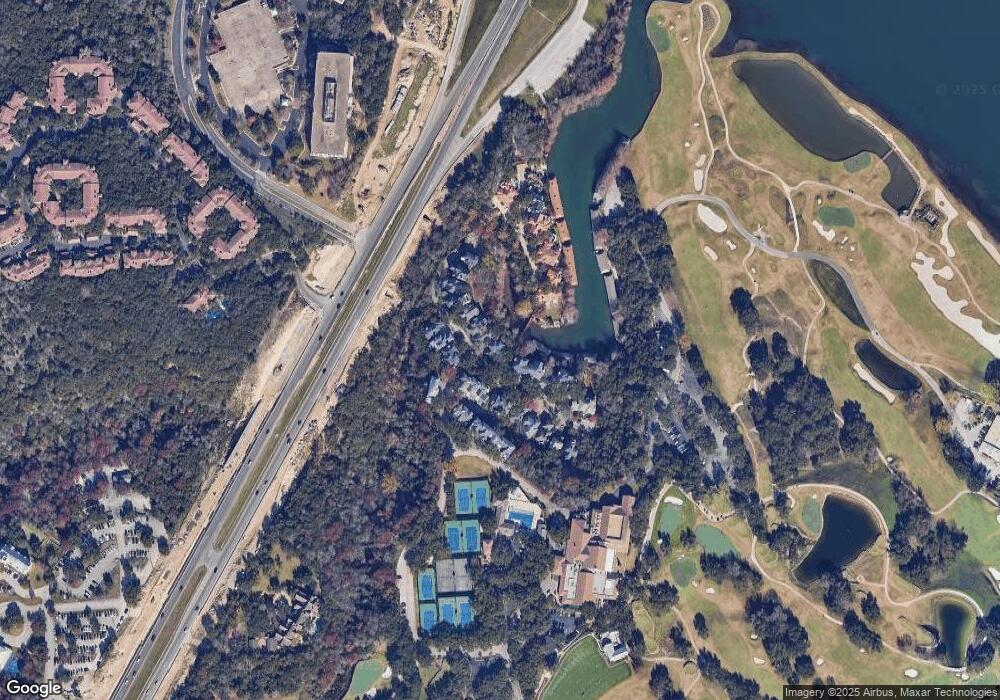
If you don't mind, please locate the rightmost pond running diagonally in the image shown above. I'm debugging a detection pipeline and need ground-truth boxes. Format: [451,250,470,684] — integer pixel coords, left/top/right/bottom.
[854,339,922,391]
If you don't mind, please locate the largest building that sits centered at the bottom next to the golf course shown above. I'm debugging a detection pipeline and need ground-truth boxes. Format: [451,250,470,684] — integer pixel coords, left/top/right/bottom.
[552,497,635,604]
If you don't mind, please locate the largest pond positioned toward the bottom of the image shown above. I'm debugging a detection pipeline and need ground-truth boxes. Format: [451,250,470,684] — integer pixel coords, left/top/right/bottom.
[794,492,882,582]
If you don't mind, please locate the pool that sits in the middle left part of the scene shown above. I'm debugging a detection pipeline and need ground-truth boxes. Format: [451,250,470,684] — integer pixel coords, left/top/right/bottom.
[204,301,228,321]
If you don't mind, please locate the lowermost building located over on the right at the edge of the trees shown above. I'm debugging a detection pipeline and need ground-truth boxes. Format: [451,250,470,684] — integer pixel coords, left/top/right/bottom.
[600,631,629,659]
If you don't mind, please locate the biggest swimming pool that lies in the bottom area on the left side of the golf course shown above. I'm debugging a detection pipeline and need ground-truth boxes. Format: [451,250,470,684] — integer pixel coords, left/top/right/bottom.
[499,487,540,530]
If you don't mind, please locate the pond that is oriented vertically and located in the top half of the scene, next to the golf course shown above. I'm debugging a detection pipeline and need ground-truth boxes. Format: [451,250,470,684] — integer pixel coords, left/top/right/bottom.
[527,0,661,356]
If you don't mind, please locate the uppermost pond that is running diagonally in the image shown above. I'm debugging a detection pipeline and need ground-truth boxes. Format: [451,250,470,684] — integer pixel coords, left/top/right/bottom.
[733,60,919,218]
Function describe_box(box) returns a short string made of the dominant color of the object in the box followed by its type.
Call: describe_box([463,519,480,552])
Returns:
blue tennis court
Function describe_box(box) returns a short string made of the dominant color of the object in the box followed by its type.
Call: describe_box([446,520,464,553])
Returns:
blue tennis court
